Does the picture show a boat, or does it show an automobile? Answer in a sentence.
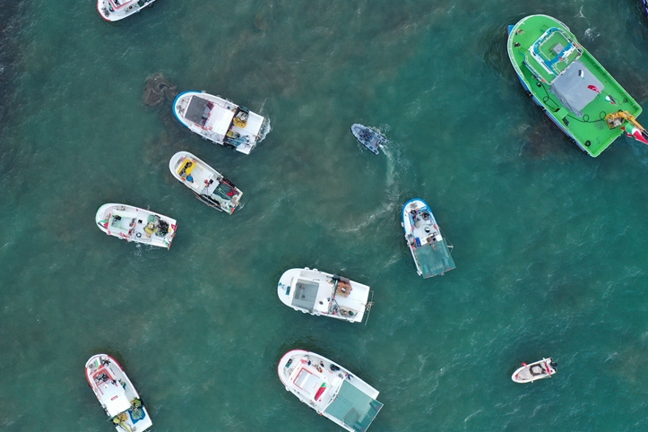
Visible in the photo is a boat.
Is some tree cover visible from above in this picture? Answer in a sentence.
No, no tree cover is visible.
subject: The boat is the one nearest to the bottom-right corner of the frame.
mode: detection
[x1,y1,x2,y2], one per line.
[511,357,557,383]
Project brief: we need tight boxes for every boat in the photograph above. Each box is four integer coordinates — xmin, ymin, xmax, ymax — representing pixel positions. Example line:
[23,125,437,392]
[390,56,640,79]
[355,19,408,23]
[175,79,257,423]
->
[400,198,456,279]
[277,268,374,324]
[97,0,150,22]
[169,151,244,213]
[96,203,176,247]
[85,353,152,432]
[511,357,557,383]
[172,89,264,155]
[350,122,385,153]
[277,349,383,432]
